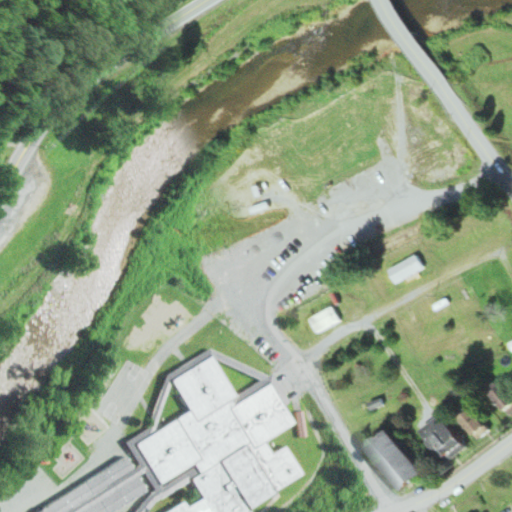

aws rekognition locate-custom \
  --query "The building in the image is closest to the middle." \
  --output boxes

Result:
[307,306,342,335]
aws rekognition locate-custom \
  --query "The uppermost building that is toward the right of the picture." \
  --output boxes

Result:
[388,254,425,285]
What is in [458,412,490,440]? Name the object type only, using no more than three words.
house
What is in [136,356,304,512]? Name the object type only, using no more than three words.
building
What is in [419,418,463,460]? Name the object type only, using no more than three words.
house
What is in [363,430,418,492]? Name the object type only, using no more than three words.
building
